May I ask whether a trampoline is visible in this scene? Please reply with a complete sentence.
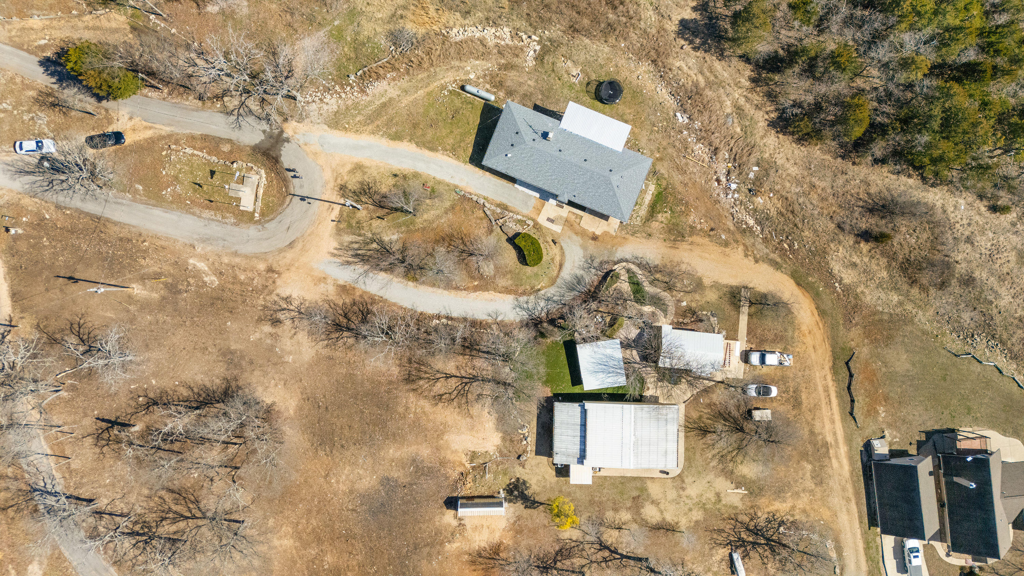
Yes, there's a trampoline down there.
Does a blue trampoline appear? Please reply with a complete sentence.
No, the photo shows no blue trampoline.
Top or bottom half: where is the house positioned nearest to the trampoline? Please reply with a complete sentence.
You can find the house positioned nearest to the trampoline in the top half.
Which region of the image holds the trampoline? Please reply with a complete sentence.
The trampoline is located in the top region of the scene.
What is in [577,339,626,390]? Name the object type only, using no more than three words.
building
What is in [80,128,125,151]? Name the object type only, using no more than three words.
car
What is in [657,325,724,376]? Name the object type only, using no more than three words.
building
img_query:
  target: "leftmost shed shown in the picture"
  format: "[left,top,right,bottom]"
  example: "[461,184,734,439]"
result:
[458,498,505,516]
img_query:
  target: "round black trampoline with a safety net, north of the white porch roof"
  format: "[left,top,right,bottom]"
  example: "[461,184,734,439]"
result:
[598,73,628,104]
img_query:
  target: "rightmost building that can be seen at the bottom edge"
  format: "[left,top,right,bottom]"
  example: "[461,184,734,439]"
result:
[930,448,1024,560]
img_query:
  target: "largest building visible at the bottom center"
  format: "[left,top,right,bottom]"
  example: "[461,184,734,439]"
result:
[552,399,680,469]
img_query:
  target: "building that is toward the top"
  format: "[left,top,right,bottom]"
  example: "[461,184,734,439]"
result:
[481,99,654,224]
